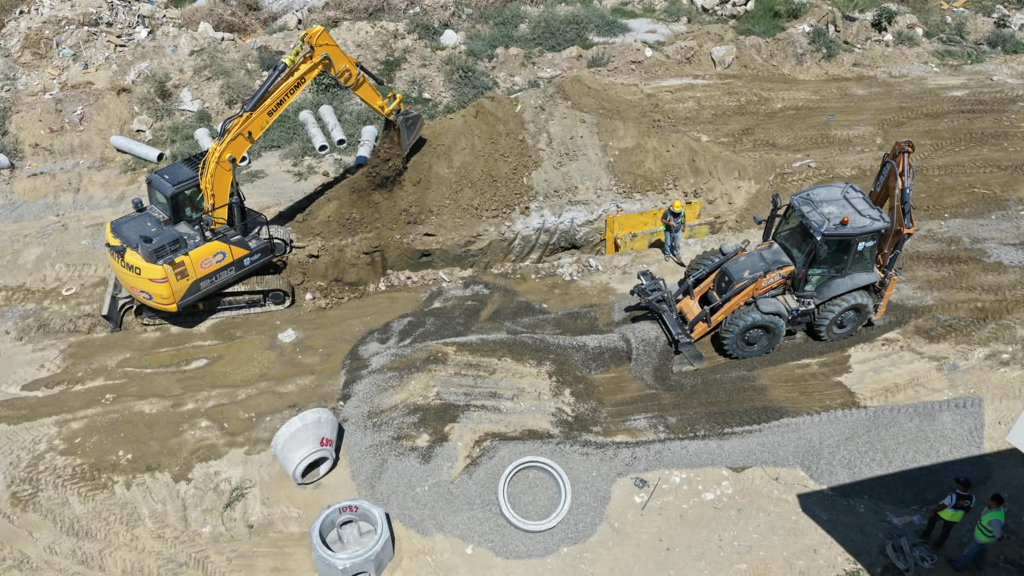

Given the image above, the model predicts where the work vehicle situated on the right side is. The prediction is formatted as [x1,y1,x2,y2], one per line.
[628,140,935,372]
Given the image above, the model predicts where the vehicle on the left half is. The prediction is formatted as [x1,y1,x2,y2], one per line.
[102,27,426,332]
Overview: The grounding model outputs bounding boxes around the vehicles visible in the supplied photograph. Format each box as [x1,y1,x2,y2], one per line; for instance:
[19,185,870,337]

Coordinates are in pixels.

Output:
[628,140,935,372]
[102,27,426,332]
